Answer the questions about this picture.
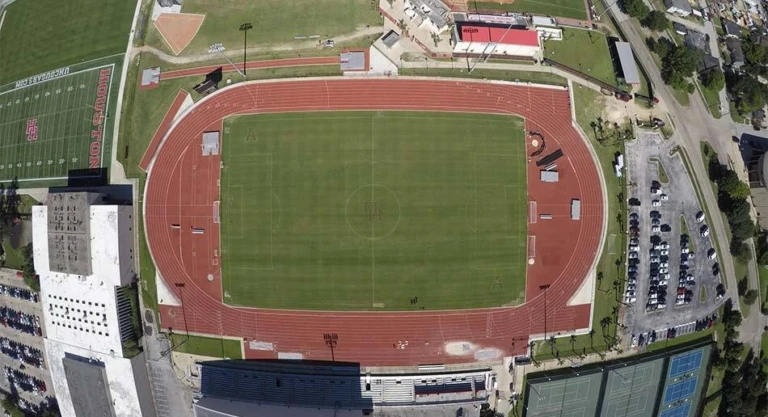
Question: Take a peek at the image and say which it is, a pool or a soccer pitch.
soccer pitch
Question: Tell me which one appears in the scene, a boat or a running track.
running track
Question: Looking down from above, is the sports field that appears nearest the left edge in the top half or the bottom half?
top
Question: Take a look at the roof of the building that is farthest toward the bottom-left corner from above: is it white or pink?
white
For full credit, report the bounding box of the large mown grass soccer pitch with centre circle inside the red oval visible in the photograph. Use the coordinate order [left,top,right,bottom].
[219,110,529,312]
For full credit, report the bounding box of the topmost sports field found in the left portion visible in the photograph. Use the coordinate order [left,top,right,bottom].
[153,13,206,56]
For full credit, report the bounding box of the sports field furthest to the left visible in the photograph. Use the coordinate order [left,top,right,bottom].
[0,52,125,190]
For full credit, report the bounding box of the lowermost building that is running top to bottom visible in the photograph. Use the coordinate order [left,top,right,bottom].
[32,192,157,417]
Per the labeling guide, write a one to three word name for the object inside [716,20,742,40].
house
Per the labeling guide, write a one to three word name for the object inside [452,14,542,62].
building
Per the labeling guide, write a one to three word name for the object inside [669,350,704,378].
tennis court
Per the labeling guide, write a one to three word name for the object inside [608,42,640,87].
shed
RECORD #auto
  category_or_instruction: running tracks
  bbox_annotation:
[142,76,607,367]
